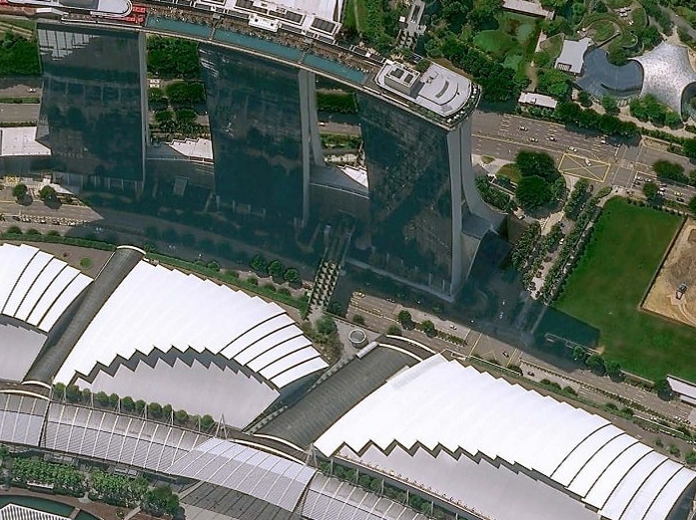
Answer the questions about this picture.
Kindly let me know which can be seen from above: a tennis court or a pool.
pool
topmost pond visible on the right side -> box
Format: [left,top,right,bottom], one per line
[476,15,540,69]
